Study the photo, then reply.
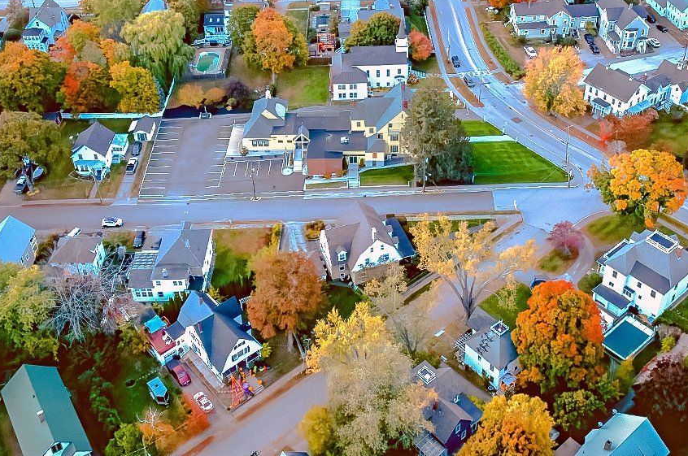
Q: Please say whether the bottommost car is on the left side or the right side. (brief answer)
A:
left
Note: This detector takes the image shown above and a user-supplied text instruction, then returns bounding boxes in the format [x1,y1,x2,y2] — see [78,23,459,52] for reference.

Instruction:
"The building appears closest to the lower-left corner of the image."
[1,364,91,456]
